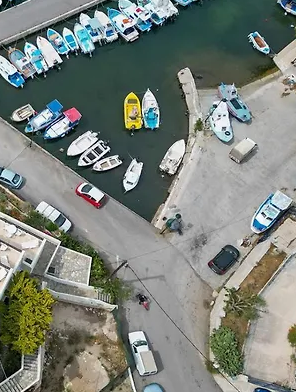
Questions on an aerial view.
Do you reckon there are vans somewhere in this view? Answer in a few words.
Yes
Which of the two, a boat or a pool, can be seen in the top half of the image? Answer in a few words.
boat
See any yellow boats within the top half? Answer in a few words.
Yes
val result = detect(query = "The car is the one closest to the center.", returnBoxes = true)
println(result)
[72,182,108,209]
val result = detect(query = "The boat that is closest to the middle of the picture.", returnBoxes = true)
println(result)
[123,157,147,196]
